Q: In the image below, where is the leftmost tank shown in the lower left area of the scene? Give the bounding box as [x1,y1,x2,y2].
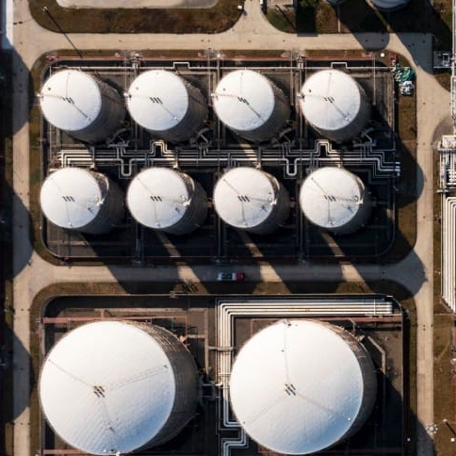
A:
[39,318,198,456]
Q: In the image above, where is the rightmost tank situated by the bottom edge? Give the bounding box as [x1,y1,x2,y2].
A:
[229,313,379,456]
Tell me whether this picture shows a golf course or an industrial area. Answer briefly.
industrial area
